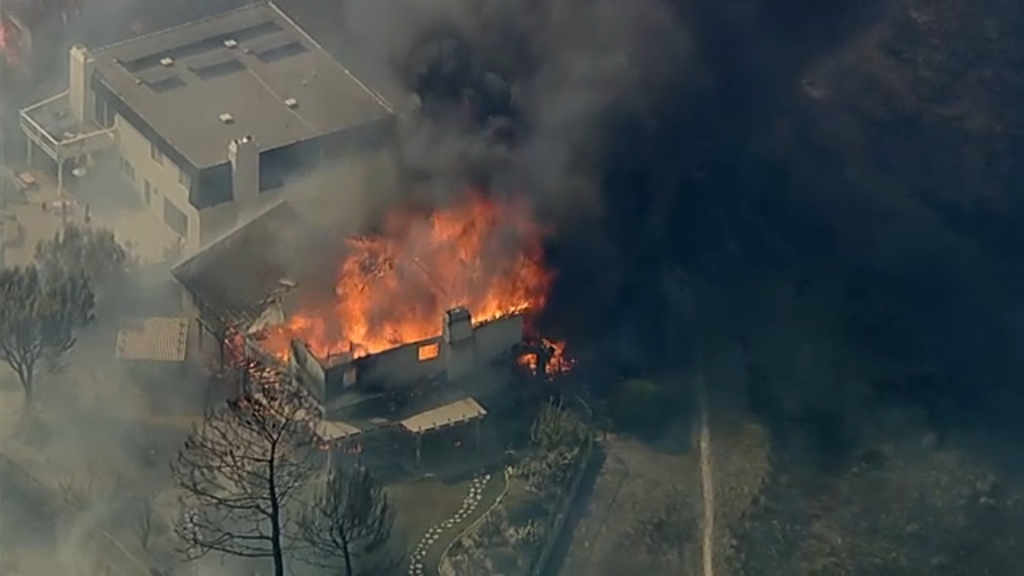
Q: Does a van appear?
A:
No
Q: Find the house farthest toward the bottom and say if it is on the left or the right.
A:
left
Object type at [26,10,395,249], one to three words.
house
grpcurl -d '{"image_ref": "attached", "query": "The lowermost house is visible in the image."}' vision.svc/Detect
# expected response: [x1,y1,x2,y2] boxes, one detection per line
[167,198,530,408]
